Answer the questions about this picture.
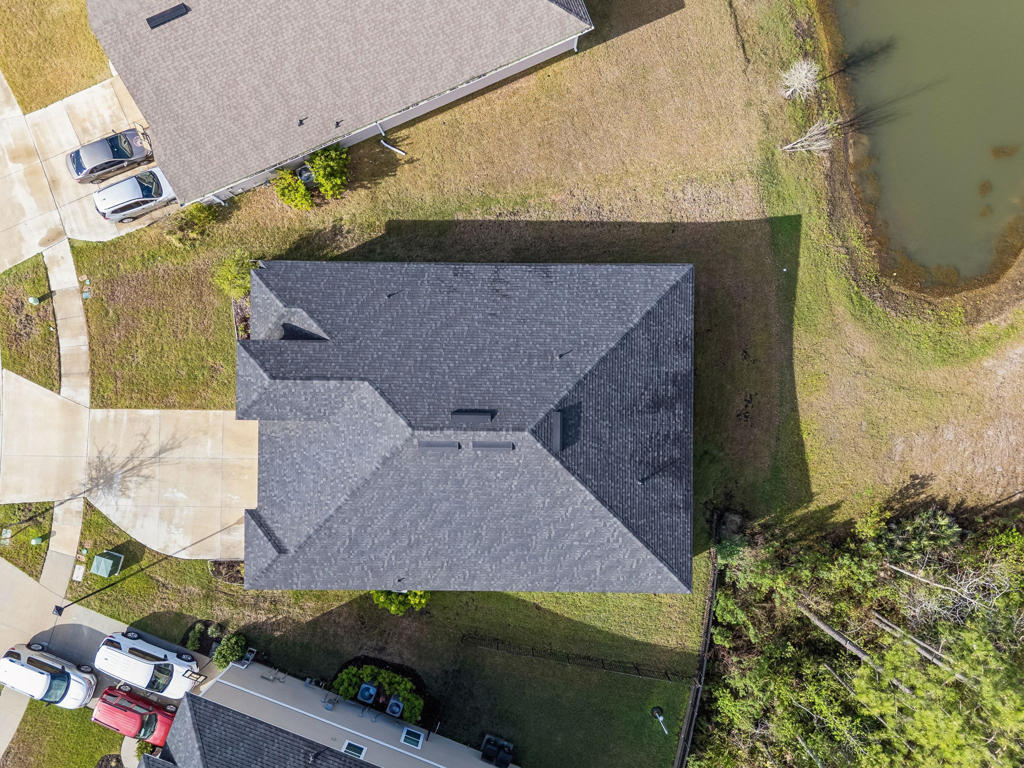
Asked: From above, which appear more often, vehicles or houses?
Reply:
vehicles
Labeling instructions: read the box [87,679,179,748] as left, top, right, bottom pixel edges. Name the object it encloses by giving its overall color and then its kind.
red car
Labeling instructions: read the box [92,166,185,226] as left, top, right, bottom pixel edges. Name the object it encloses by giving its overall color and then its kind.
white car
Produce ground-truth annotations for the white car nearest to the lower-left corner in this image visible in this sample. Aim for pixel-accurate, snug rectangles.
[0,639,101,709]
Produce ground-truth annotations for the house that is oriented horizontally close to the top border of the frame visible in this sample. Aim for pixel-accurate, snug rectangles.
[85,0,597,209]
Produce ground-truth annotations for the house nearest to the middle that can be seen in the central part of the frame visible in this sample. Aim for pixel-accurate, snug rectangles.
[234,259,695,595]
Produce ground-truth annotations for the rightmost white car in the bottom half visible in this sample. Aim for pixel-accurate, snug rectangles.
[94,628,203,698]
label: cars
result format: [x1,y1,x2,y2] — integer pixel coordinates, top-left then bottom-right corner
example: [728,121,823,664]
[60,126,160,188]
[0,639,101,709]
[87,679,179,748]
[94,628,203,698]
[92,166,185,226]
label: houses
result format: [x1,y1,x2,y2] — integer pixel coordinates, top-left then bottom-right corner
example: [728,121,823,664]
[234,259,695,595]
[85,0,597,209]
[139,657,522,768]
